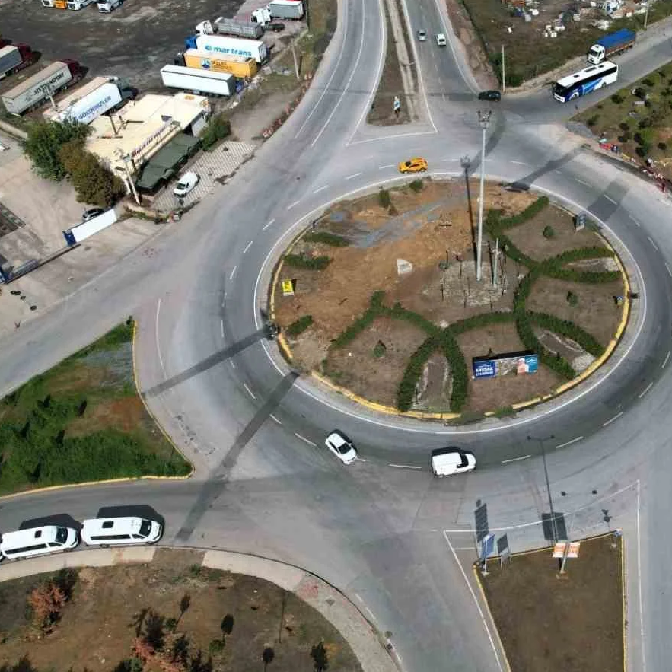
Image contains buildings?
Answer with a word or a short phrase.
Yes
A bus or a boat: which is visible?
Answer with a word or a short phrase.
bus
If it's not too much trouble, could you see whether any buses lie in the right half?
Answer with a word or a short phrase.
Yes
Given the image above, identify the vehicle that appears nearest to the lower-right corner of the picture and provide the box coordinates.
[432,453,476,479]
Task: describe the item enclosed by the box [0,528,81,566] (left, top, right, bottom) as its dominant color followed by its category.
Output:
white vehicle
